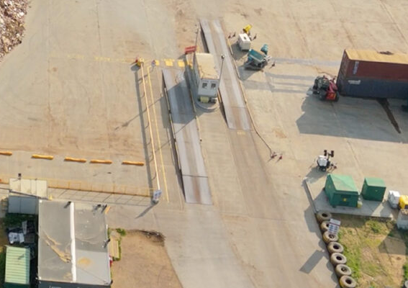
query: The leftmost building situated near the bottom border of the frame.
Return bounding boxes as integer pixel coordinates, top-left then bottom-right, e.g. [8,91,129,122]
[4,246,30,288]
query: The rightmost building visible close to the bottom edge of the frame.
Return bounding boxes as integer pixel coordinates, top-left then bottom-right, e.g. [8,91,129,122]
[37,197,118,288]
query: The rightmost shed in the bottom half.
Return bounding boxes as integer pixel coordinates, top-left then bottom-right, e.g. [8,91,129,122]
[360,177,388,202]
